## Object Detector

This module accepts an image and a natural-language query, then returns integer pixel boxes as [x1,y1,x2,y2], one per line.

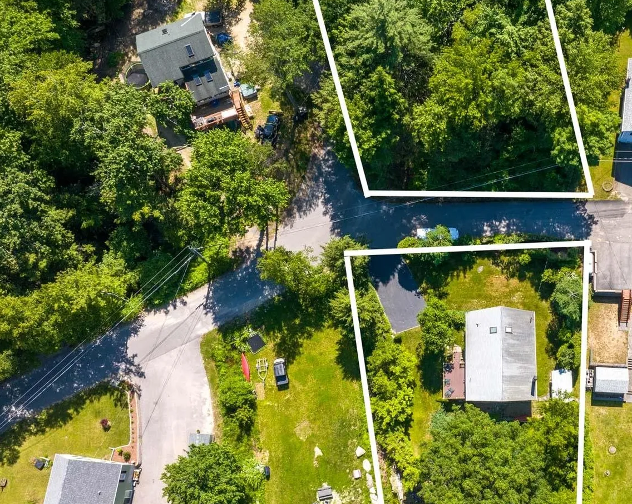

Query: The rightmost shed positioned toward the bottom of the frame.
[593,366,629,399]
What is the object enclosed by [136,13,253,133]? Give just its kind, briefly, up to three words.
house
